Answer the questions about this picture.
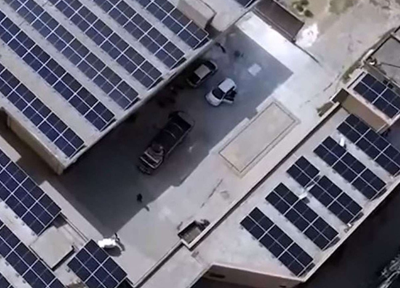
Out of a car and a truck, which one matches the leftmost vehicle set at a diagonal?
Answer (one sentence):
In the photo, the leftmost vehicle set at a diagonal shows up as a truck.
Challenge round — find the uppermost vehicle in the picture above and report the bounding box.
[193,62,234,94]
